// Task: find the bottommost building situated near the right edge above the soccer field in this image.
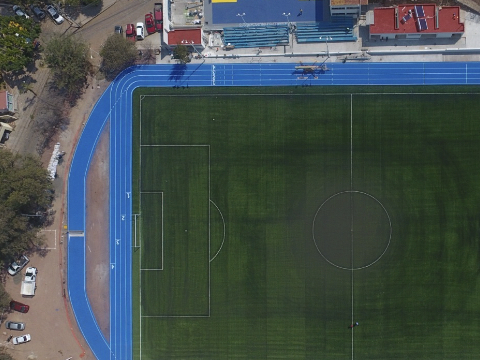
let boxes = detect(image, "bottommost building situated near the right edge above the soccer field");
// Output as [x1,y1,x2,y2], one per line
[369,4,464,39]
